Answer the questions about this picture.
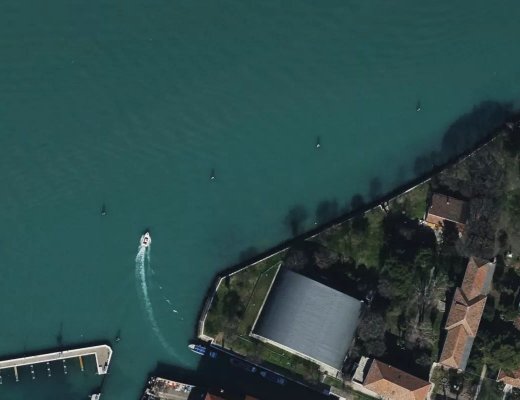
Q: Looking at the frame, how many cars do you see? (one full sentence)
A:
The count of cars is 0.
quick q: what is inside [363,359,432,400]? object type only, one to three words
house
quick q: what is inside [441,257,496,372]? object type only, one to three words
building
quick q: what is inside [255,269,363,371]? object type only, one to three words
building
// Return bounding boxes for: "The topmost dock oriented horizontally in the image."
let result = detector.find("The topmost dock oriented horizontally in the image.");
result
[0,344,112,375]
